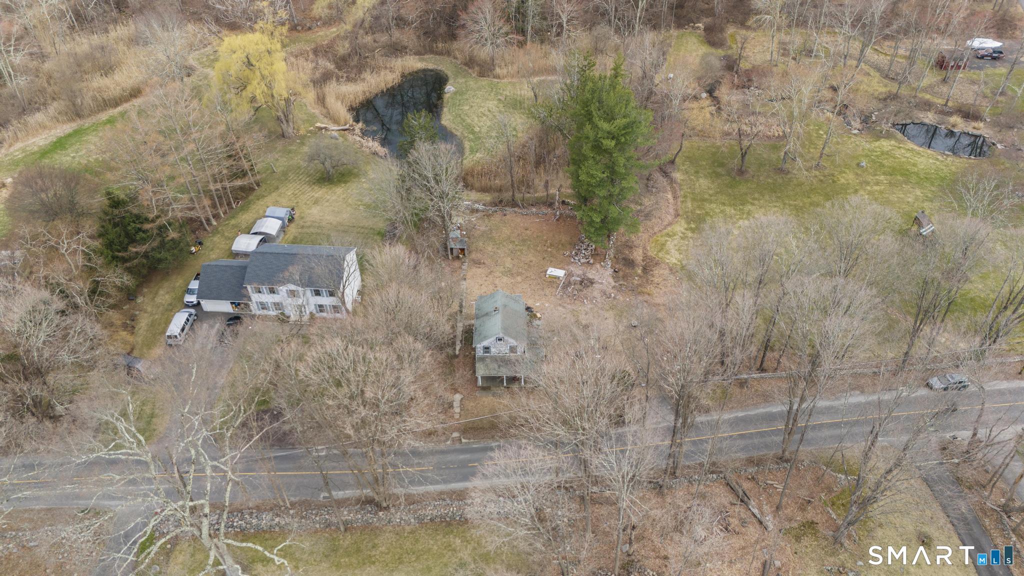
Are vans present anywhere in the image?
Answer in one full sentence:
Yes, I can see a van in this picture.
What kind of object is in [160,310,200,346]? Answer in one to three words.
van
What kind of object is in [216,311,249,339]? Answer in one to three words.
car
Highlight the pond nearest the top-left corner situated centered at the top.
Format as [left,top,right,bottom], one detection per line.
[359,71,467,173]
